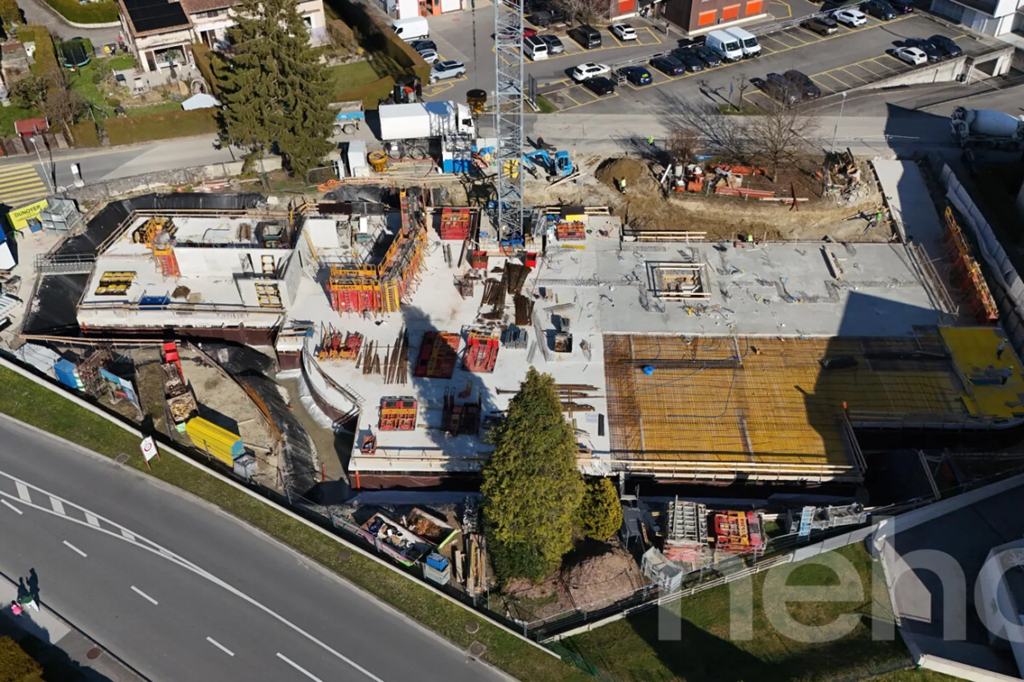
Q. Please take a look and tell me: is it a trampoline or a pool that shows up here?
trampoline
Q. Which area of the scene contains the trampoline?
top left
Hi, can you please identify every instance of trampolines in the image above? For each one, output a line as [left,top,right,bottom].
[54,36,91,64]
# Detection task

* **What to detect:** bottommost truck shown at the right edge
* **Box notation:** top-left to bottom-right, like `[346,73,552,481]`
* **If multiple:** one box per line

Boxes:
[938,108,1024,151]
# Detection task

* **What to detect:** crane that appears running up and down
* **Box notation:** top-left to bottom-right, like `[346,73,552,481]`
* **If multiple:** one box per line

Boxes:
[485,0,536,260]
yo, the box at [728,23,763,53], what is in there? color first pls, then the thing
white van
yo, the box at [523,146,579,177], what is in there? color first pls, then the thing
blue work vehicle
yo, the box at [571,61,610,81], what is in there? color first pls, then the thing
white car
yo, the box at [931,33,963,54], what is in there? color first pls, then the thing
black car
